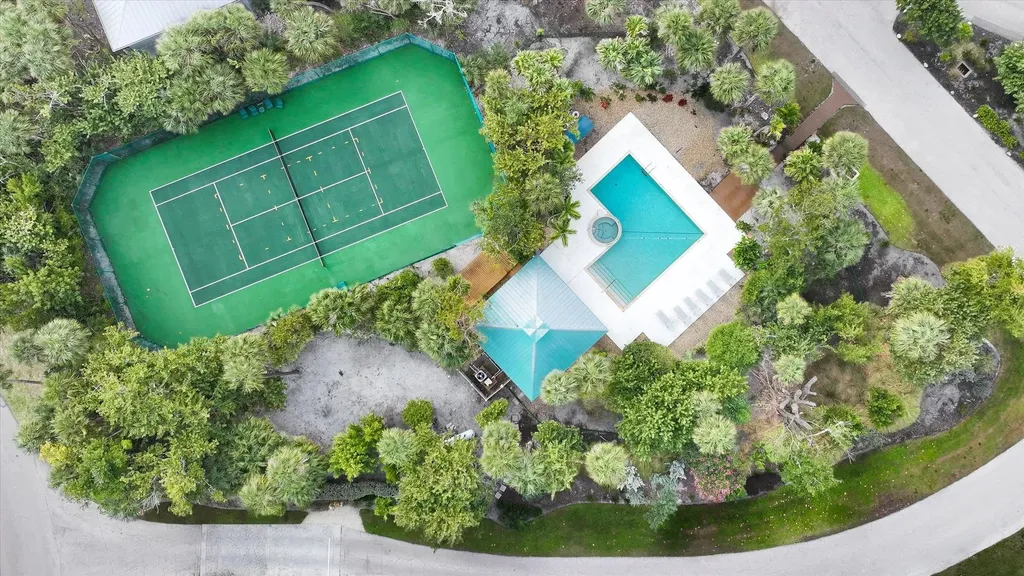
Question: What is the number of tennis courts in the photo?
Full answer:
Only 1 tennis court is visible.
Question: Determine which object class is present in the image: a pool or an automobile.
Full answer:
It is a pool that can be seen here.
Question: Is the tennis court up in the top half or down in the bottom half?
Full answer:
Seen from above, the tennis court lies in the top half of the view.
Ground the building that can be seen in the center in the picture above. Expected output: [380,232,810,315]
[462,254,608,402]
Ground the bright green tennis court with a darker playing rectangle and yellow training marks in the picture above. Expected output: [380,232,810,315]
[89,44,495,349]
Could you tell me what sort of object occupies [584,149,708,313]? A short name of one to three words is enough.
swimming pool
